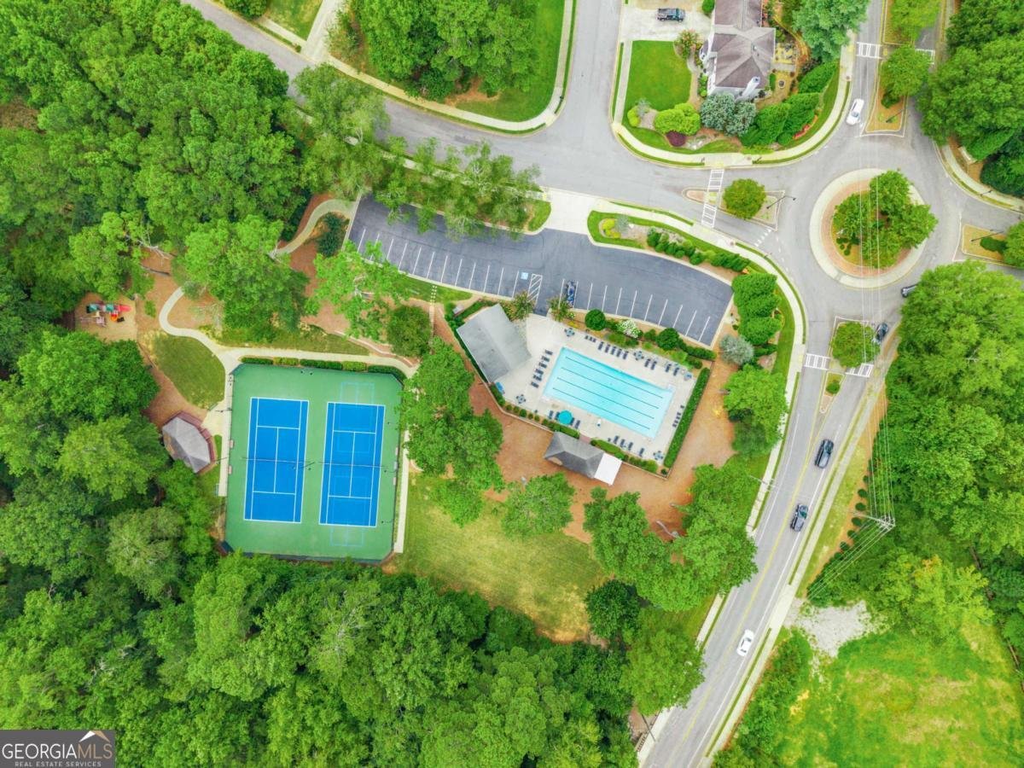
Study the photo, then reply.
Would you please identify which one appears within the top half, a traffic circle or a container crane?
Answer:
traffic circle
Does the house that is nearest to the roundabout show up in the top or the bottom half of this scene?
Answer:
top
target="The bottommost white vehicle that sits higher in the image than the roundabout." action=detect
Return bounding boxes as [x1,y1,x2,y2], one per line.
[843,99,863,126]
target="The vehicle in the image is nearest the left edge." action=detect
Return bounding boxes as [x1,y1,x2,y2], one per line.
[564,280,576,306]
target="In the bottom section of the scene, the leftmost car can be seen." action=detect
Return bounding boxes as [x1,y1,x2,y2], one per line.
[736,628,753,655]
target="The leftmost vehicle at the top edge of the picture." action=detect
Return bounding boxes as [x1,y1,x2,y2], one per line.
[655,9,684,24]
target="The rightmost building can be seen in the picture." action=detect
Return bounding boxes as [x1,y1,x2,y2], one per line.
[698,0,776,103]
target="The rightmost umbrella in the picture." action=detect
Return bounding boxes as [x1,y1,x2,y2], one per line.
[560,411,573,424]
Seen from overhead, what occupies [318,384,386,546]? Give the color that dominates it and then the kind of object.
blue tennis court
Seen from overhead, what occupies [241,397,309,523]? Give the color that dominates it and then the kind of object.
blue tennis court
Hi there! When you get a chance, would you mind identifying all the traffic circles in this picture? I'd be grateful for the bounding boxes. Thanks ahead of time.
[809,167,928,288]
